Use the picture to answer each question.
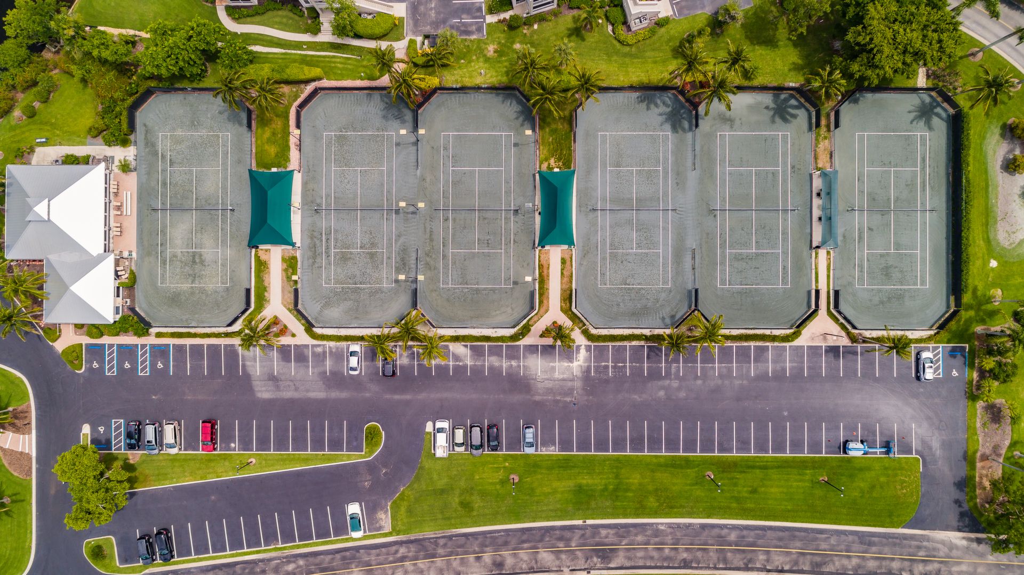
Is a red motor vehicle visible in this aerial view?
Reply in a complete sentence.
Yes, there's a red motor vehicle here.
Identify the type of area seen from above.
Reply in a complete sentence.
What you see here is a sports ground.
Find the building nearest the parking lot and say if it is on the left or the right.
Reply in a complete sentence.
You can find the building nearest the parking lot on the left side of the picture.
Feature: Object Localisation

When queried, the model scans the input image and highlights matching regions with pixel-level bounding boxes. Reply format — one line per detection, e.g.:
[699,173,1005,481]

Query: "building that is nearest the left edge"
[6,162,130,324]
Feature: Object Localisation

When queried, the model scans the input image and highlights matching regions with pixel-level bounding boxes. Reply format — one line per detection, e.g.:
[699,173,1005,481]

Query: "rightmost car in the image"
[919,351,937,382]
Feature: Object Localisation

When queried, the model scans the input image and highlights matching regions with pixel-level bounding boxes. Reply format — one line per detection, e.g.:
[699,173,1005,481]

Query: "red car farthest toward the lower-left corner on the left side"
[200,421,217,452]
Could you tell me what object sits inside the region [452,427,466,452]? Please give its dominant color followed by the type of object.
white car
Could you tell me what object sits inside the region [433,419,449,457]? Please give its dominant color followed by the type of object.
white vehicle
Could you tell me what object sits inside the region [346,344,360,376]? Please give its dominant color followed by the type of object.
white car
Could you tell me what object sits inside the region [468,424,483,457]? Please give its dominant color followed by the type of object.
gray car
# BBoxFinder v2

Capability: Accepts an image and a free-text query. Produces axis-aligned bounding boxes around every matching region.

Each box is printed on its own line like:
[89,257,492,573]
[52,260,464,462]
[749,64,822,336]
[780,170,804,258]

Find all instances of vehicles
[919,351,937,382]
[200,421,217,452]
[136,536,153,566]
[164,421,180,453]
[433,419,449,457]
[468,424,483,457]
[522,424,536,454]
[153,530,172,563]
[125,421,141,450]
[486,424,500,452]
[381,347,396,378]
[144,422,161,455]
[346,504,363,539]
[452,427,466,452]
[346,344,360,376]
